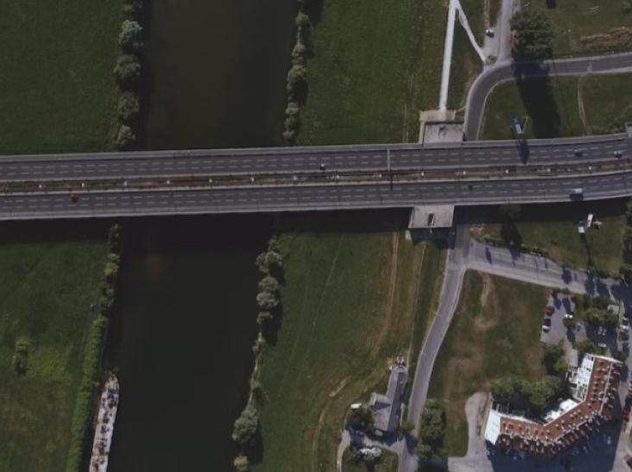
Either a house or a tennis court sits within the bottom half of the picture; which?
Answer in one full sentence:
You can see a house within the bottom half of the picture.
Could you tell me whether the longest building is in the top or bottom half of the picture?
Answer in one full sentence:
The longest building is in the bottom half of the image.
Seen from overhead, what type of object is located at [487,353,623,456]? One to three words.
building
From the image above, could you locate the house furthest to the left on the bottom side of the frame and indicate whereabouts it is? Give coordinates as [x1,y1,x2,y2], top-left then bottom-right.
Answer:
[368,361,408,436]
